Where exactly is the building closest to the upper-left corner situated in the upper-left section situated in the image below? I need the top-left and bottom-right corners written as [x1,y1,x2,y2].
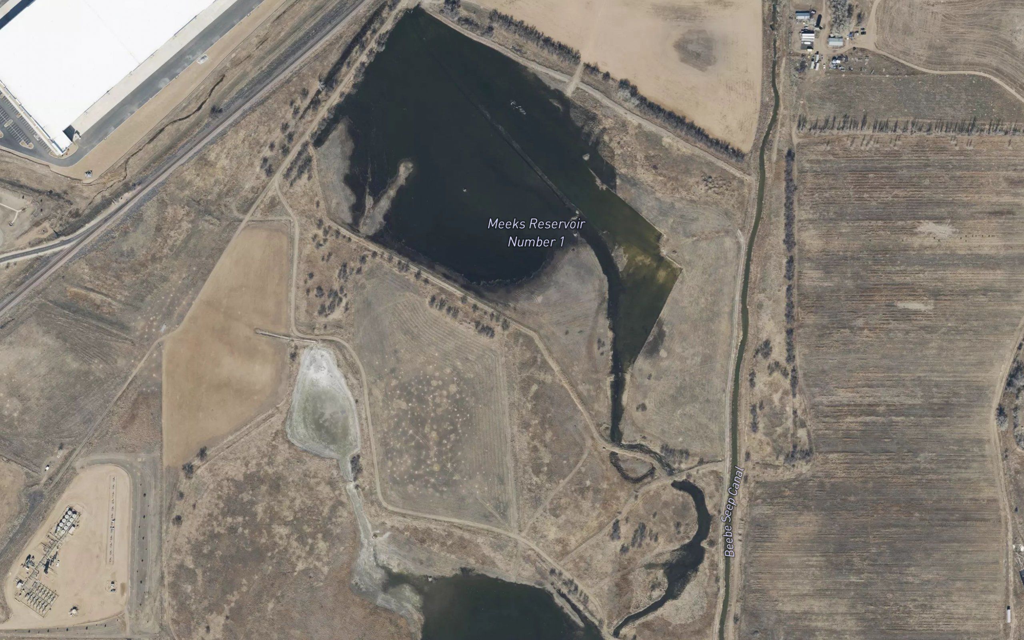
[0,0,217,156]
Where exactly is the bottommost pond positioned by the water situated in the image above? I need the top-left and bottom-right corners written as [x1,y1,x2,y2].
[379,565,604,640]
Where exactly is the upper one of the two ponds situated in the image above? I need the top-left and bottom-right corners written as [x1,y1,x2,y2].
[314,6,682,444]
